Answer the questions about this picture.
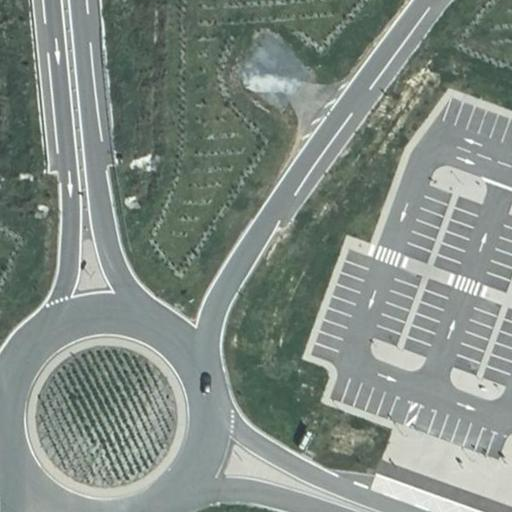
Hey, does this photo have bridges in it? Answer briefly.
No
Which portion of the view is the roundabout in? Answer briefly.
bottom left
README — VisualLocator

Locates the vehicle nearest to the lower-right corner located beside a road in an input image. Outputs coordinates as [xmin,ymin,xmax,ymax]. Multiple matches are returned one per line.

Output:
[298,431,314,452]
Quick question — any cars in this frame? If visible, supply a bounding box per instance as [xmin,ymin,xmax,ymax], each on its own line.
[202,374,212,394]
[298,431,314,452]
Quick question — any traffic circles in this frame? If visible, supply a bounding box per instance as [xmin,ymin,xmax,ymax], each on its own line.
[0,294,230,512]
